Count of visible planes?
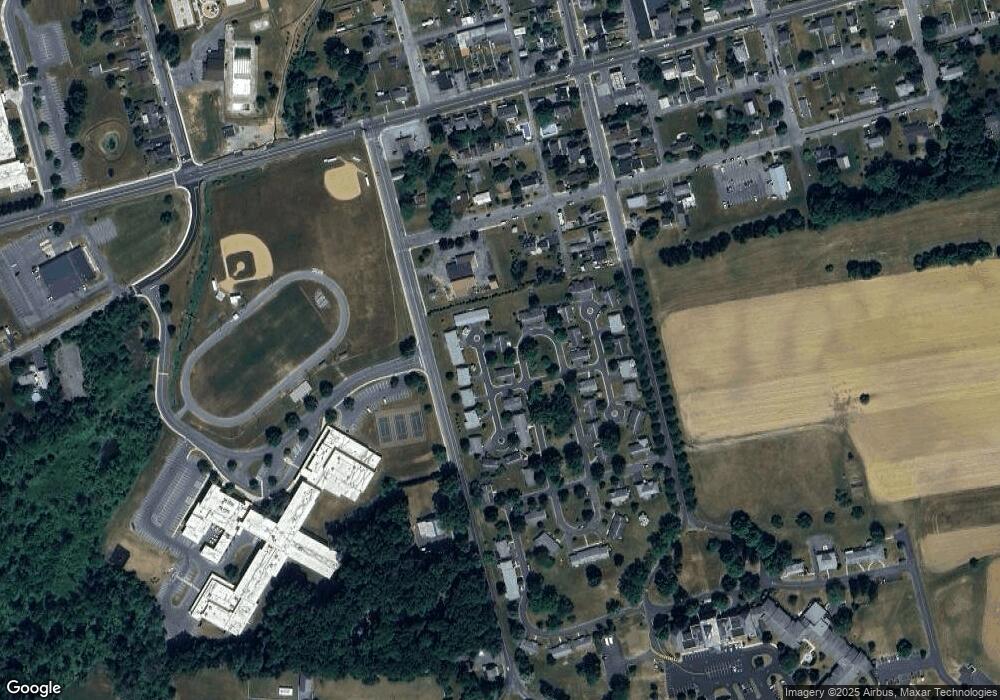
none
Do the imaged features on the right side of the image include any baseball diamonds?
No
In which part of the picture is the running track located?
left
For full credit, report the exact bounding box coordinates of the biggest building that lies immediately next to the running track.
[183,425,382,636]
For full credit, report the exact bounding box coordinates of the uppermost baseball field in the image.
[324,159,360,200]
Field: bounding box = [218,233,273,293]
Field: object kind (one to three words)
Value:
baseball field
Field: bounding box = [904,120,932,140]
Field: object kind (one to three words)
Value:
house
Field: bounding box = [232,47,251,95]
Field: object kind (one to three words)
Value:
swimming pool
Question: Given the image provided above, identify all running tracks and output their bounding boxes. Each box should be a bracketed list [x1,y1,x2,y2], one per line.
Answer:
[182,269,349,427]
